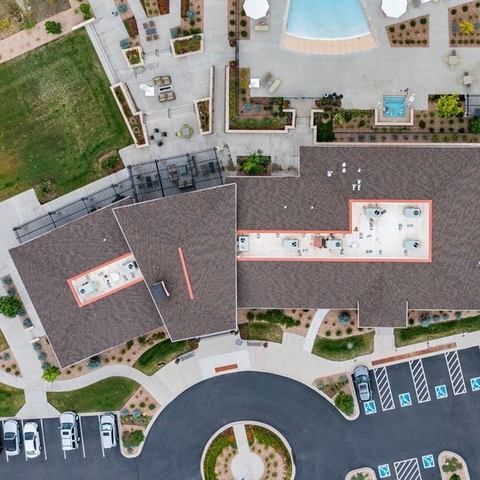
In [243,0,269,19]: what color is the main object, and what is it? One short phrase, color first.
white umbrella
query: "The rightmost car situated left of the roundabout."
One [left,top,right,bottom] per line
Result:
[98,412,119,449]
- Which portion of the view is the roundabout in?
bottom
